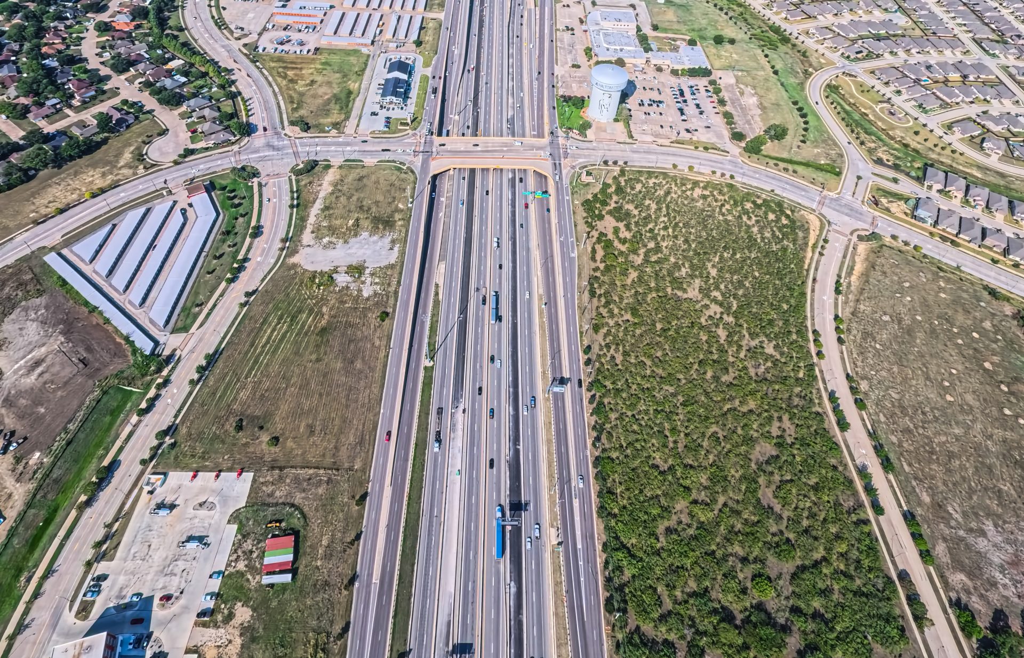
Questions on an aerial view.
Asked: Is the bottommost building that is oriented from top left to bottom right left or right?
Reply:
left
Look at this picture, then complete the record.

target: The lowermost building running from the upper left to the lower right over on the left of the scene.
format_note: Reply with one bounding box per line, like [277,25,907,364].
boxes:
[44,252,155,357]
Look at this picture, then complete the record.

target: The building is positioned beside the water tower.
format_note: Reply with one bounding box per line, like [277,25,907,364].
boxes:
[581,9,710,73]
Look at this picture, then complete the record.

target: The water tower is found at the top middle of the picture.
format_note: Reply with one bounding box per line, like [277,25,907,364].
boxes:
[588,66,629,123]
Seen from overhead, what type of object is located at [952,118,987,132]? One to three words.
house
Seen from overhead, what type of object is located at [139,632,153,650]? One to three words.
vehicle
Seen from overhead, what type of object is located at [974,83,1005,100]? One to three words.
house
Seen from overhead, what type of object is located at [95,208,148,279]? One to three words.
building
